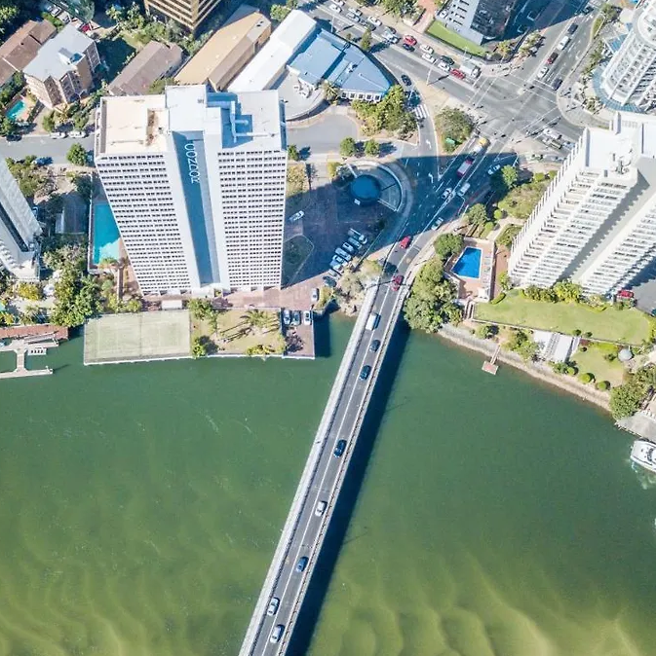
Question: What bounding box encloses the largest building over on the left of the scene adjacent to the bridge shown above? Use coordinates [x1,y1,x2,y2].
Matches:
[93,83,290,300]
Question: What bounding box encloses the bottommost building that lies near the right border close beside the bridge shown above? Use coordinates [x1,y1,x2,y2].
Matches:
[510,113,656,301]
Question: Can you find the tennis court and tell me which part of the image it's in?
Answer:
left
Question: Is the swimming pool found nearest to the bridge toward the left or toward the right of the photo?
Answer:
right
